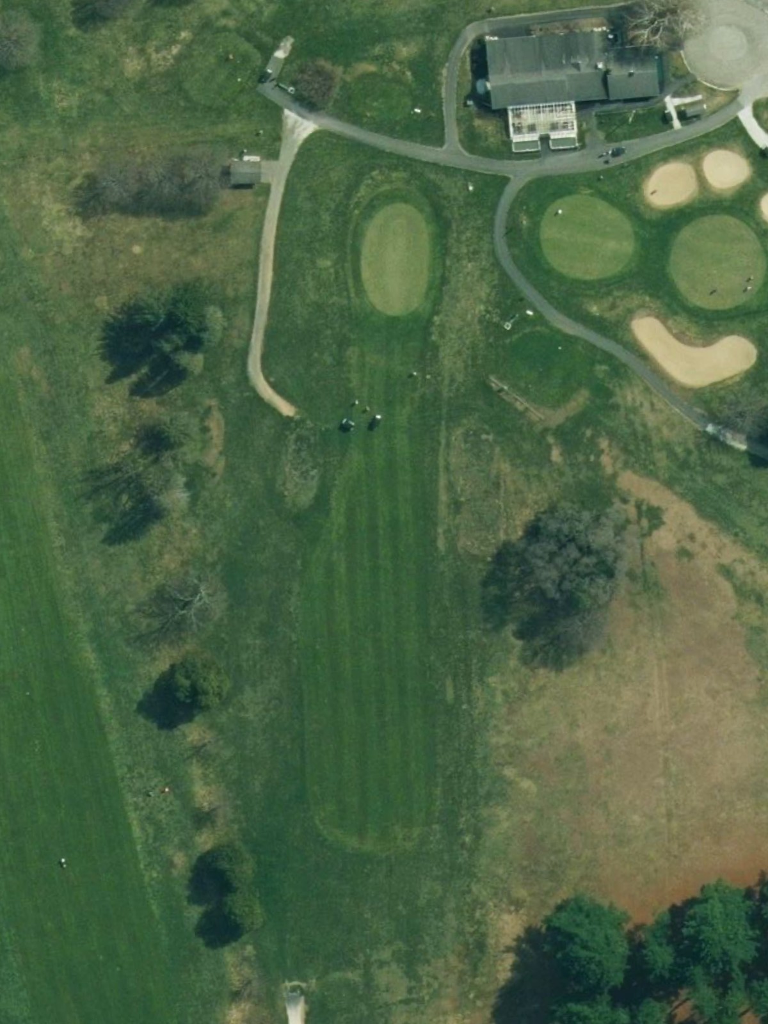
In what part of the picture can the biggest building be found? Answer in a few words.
top right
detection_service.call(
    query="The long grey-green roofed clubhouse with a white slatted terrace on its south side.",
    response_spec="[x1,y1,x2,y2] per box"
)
[486,29,666,112]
